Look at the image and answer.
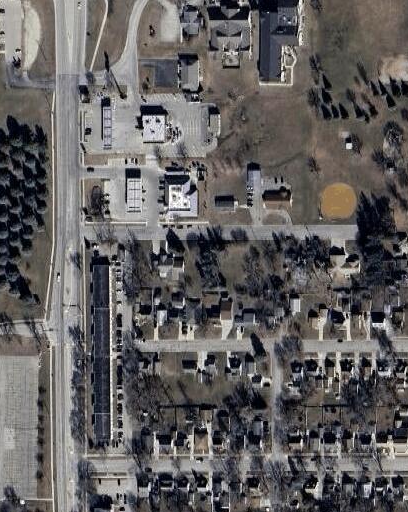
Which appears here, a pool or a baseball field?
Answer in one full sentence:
I can see a baseball field in this picture.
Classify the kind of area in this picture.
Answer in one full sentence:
What you see here is a residential area.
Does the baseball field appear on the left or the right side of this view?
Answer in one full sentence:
You can find the baseball field on the right side of the picture.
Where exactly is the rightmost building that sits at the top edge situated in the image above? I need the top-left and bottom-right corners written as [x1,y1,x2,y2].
[260,0,299,80]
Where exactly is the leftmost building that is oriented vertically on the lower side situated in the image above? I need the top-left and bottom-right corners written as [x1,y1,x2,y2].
[92,265,109,446]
